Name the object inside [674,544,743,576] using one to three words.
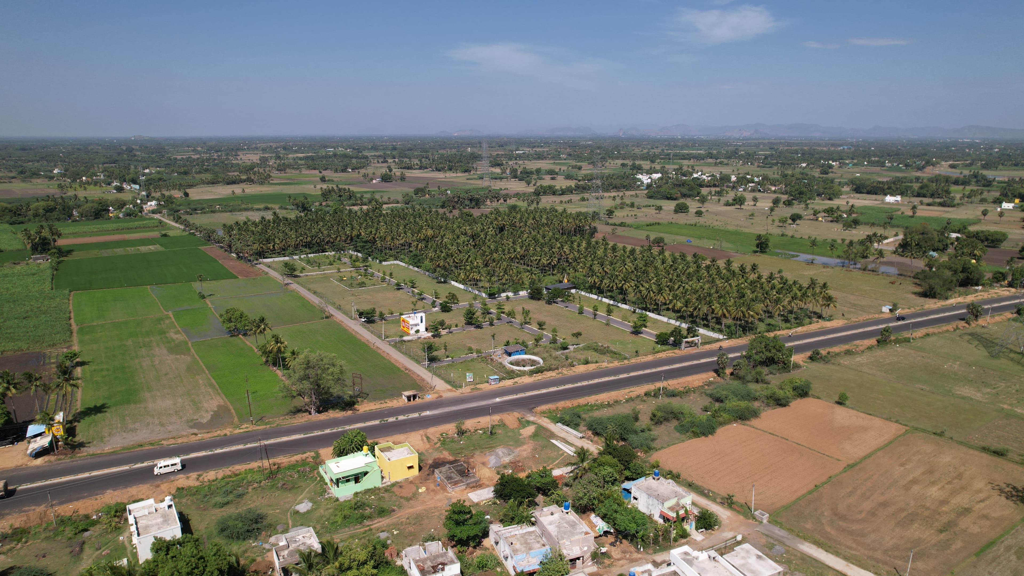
house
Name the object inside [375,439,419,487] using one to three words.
house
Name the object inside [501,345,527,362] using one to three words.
shed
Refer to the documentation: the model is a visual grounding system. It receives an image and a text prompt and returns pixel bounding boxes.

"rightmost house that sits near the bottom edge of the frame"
[724,546,785,576]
